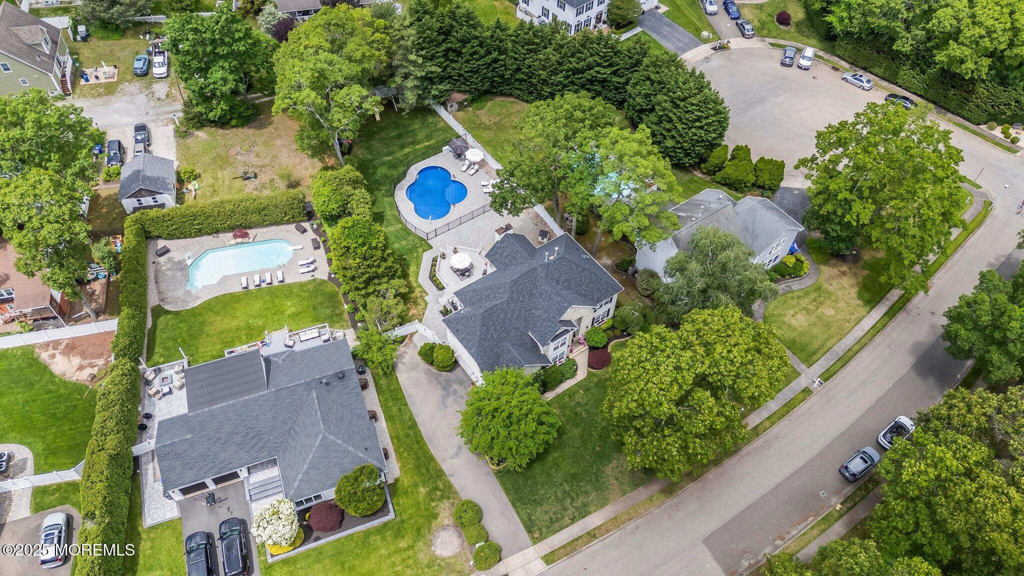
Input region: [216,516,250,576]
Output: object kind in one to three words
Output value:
car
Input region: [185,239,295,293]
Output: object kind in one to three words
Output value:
swimming pool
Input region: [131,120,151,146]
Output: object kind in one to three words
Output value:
vehicle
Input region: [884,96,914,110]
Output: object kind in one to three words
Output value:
car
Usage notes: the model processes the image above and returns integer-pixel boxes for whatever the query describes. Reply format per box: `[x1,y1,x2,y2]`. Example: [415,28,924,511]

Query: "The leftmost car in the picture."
[37,512,70,571]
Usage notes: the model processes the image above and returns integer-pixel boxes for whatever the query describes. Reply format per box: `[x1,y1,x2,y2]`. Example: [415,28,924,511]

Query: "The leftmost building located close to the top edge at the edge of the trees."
[0,1,75,97]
